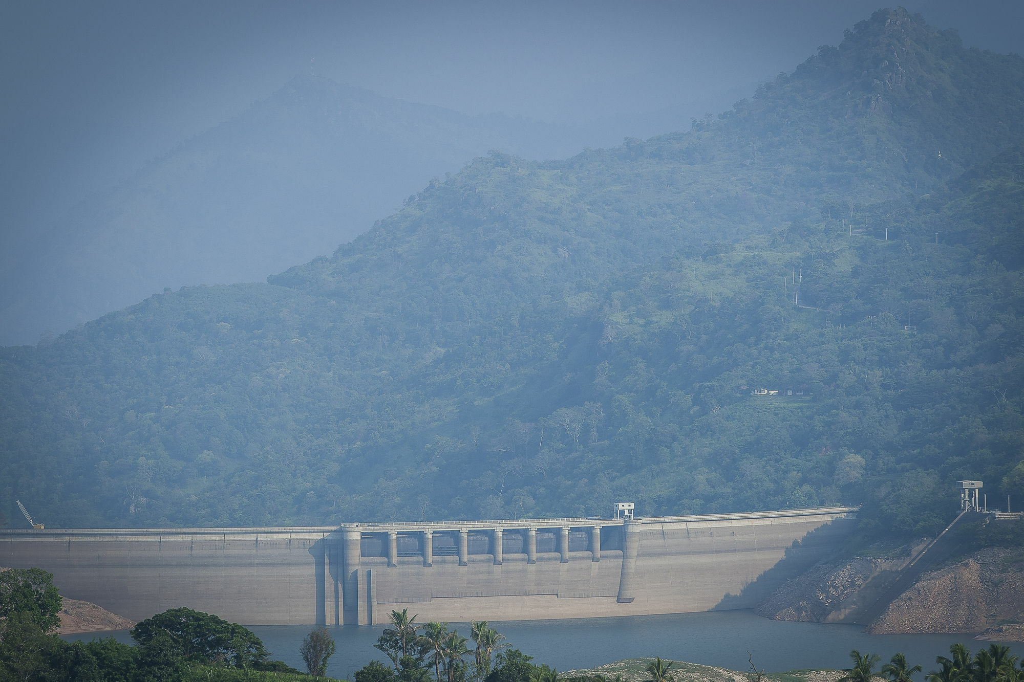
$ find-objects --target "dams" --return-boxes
[0,502,872,627]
